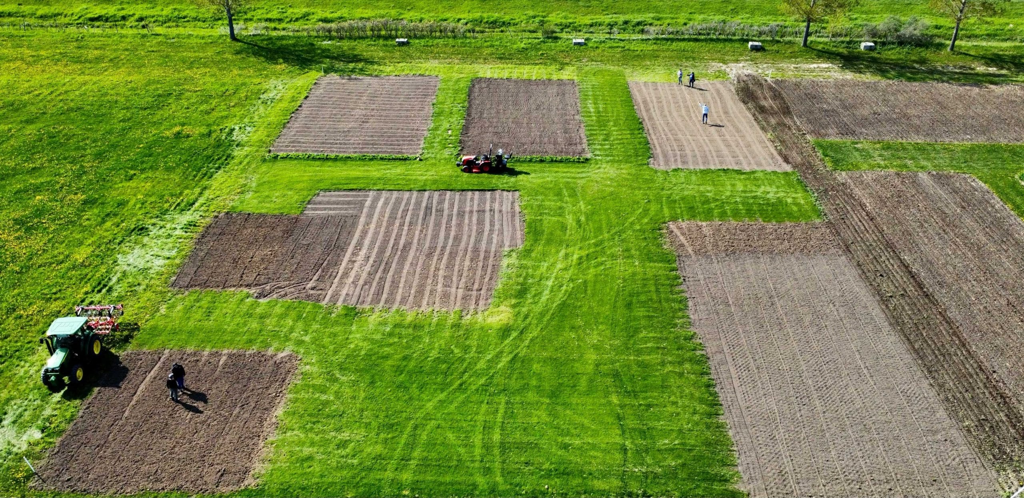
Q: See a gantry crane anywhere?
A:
No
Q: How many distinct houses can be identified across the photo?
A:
0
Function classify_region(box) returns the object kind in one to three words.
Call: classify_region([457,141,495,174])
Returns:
work vehicle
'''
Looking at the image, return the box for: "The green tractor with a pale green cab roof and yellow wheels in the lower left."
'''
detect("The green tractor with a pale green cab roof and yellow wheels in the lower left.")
[41,311,108,386]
